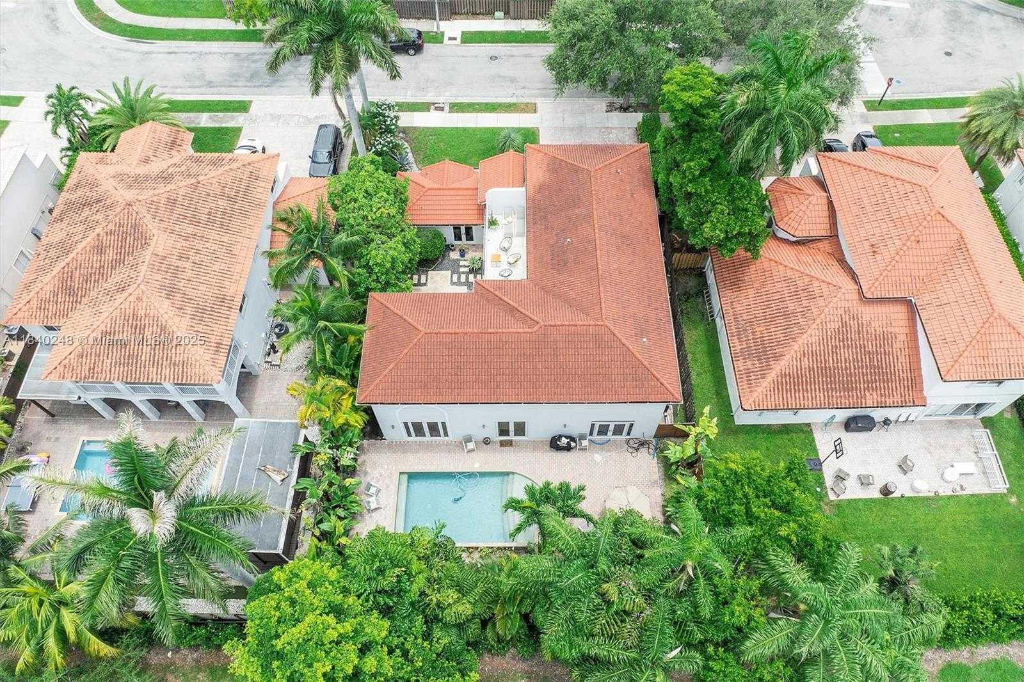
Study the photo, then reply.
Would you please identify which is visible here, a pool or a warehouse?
pool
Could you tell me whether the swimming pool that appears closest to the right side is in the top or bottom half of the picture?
bottom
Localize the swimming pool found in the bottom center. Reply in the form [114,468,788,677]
[392,469,546,547]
